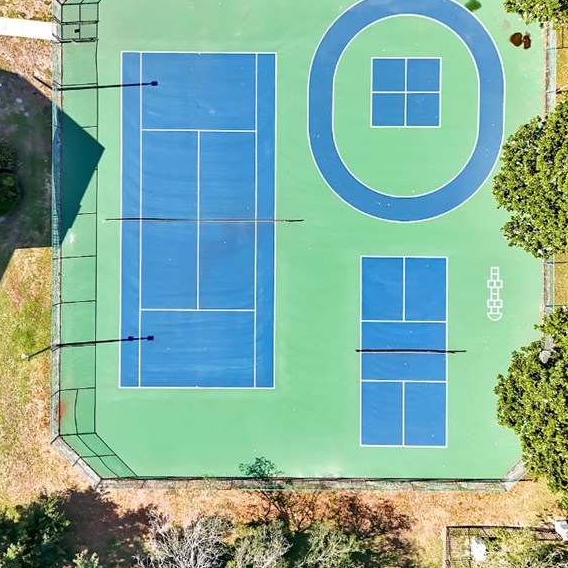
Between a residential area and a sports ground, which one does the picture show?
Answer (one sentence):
This looks like a sports ground.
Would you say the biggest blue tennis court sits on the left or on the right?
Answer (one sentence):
It is on the left.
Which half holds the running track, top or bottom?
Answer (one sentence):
The running track sits in the top half of the picture.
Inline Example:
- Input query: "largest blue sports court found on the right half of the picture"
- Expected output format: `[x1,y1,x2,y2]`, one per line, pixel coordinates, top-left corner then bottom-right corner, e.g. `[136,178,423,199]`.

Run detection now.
[360,256,448,447]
